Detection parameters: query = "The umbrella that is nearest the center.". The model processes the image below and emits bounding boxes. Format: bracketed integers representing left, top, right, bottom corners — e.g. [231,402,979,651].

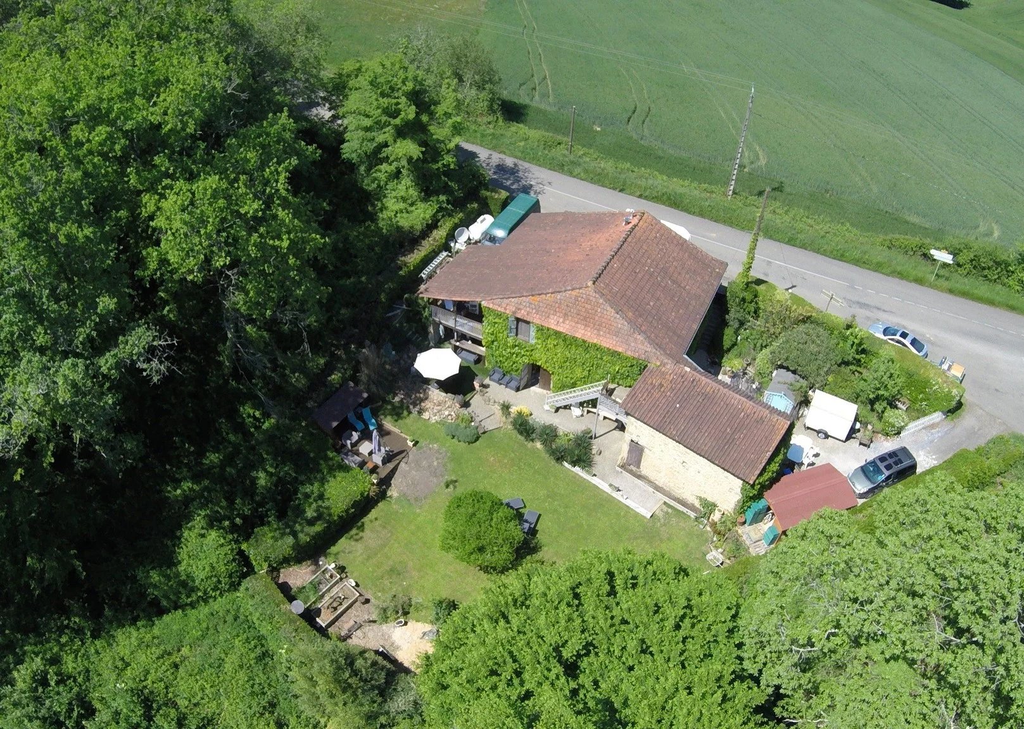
[414,350,461,398]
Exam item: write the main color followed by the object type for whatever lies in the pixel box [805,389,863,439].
white trailer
